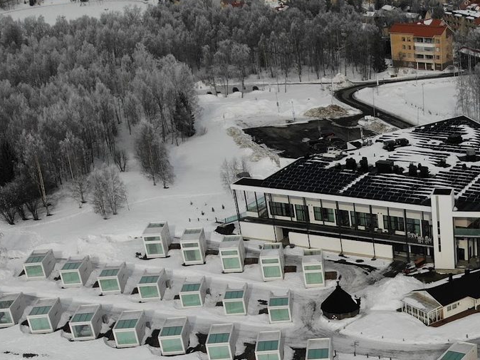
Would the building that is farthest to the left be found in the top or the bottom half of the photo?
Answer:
bottom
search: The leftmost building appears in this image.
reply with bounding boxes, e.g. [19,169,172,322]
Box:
[0,292,27,331]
